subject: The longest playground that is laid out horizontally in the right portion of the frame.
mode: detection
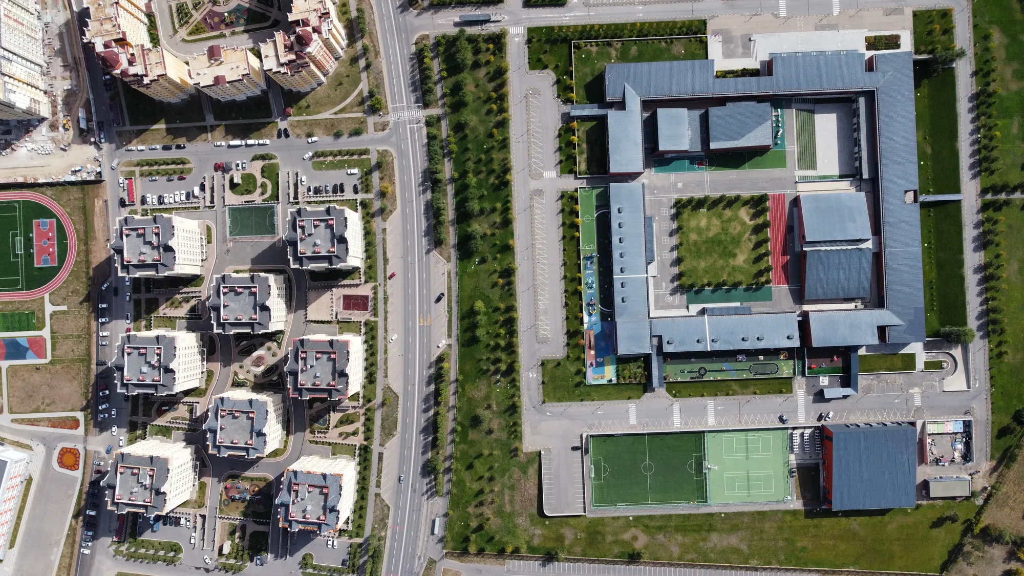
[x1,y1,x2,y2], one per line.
[664,347,796,380]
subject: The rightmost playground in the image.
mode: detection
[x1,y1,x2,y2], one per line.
[807,347,850,375]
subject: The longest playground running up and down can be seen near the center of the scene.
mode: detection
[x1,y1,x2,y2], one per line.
[579,185,617,385]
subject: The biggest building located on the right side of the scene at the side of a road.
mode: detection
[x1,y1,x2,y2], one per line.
[603,50,926,354]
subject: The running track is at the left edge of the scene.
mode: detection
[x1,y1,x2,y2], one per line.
[0,191,77,300]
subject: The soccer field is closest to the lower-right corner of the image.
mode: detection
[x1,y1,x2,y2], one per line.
[590,432,708,508]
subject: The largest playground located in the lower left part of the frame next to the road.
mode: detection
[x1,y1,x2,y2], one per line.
[222,478,272,512]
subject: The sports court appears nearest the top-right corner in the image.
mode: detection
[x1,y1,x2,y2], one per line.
[704,149,786,172]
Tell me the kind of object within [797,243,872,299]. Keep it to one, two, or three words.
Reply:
building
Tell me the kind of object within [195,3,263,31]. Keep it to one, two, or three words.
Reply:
playground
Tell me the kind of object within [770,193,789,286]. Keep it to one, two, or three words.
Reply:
running track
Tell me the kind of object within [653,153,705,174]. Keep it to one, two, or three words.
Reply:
sports court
